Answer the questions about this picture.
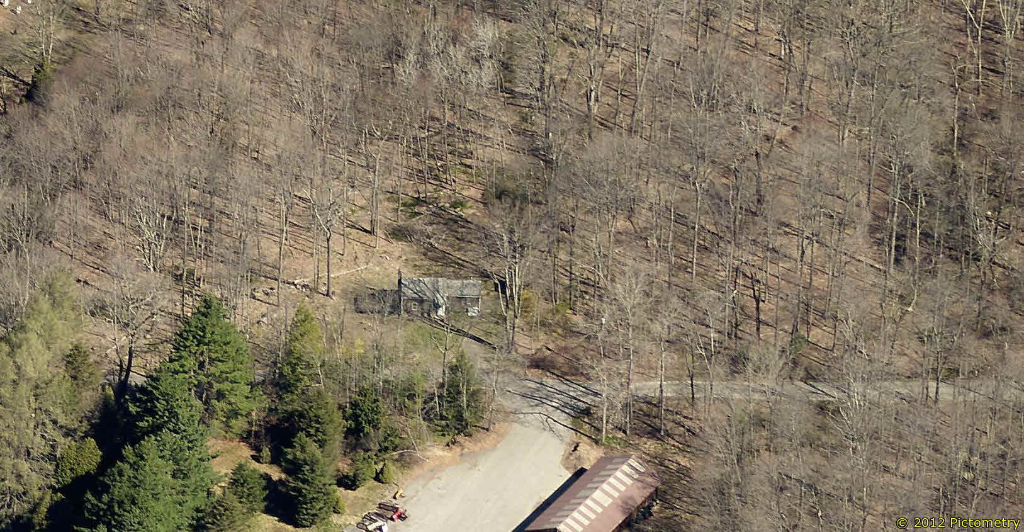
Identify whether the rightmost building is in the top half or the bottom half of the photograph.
bottom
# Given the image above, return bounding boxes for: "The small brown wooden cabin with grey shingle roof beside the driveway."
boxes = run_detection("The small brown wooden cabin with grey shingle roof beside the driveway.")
[395,273,483,322]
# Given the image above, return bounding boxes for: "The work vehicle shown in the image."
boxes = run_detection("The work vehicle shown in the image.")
[390,507,410,522]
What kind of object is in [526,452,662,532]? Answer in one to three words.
building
